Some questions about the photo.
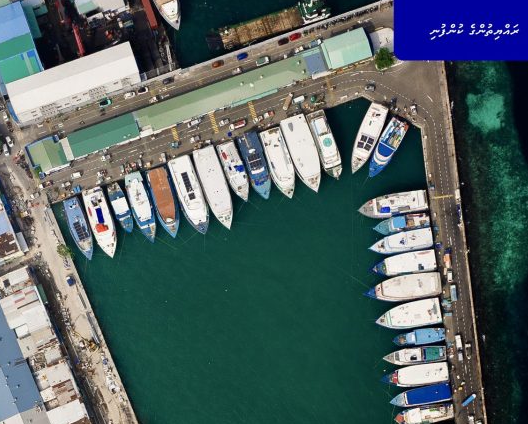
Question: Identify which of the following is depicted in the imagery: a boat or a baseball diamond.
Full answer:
This aerial view contains a boat.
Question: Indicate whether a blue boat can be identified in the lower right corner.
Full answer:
Yes, you'll find a blue boat in the lower right corner.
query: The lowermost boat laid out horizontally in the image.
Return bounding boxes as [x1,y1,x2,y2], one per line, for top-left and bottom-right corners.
[394,403,456,424]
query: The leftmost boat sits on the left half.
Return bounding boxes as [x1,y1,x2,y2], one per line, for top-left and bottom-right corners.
[62,198,92,261]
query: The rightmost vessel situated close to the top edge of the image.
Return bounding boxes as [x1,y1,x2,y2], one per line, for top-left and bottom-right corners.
[205,0,331,51]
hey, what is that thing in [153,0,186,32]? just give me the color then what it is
white boat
